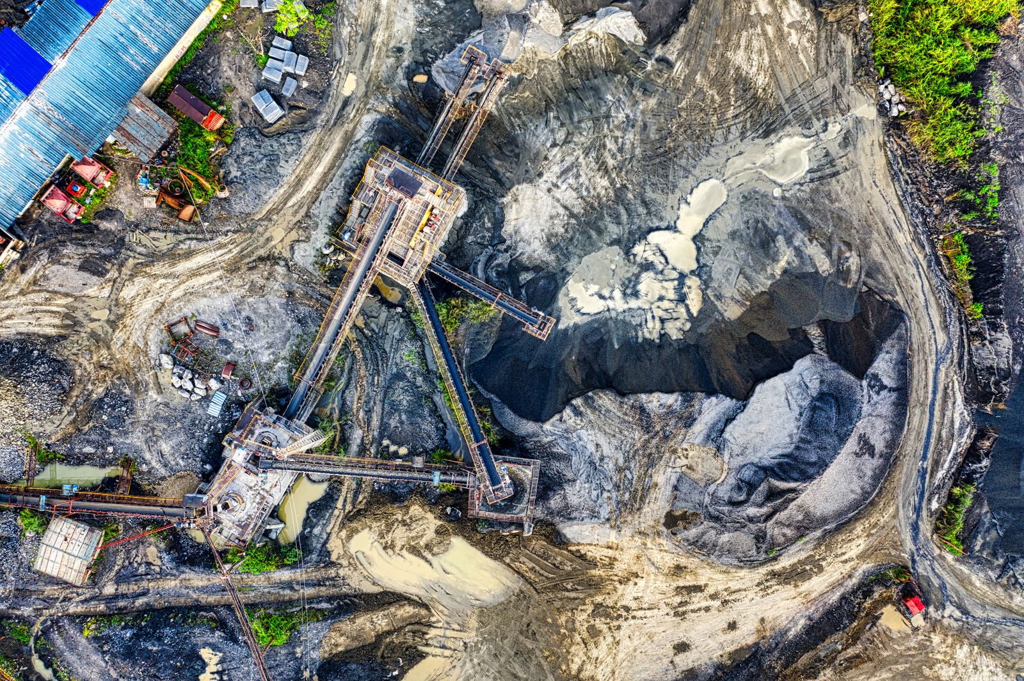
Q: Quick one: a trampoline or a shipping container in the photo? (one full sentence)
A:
I can see a shipping container in this picture.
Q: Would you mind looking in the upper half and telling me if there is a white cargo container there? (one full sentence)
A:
No, no white cargo container is visible in the upper half.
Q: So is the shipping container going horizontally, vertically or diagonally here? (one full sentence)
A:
The shipping container runs diagonally in the image.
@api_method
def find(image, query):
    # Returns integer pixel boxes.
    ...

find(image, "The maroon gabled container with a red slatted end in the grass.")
[167,84,231,135]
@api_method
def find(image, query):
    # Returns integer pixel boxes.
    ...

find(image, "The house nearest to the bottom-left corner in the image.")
[34,517,112,587]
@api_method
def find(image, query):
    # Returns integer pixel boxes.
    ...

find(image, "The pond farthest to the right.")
[278,475,329,547]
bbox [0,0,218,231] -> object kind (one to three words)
warehouse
